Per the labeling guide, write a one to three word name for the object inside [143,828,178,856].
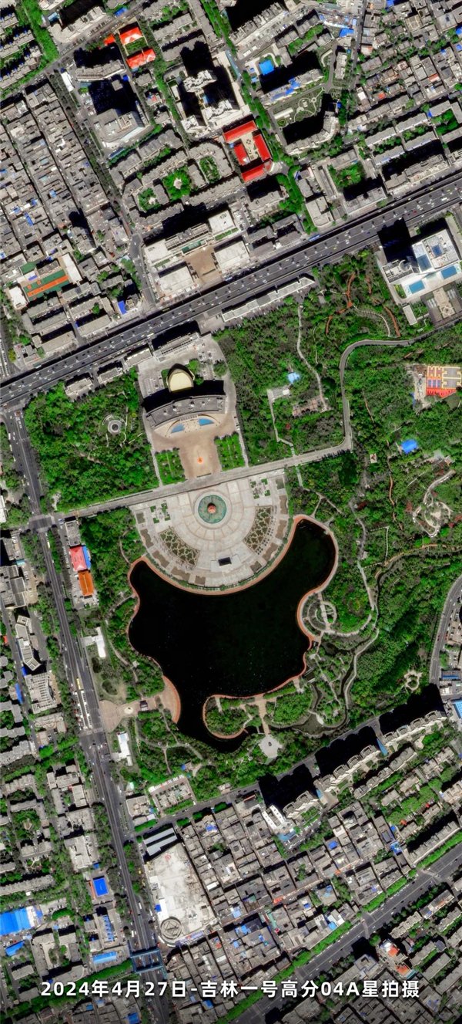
shed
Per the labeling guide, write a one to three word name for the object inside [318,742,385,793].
building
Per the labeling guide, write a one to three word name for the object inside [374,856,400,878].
house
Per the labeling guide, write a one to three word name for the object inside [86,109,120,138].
building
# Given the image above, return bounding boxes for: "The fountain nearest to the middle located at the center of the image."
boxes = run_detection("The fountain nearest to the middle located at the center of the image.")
[197,494,228,524]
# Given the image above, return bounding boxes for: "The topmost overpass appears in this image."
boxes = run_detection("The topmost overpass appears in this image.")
[0,179,462,400]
